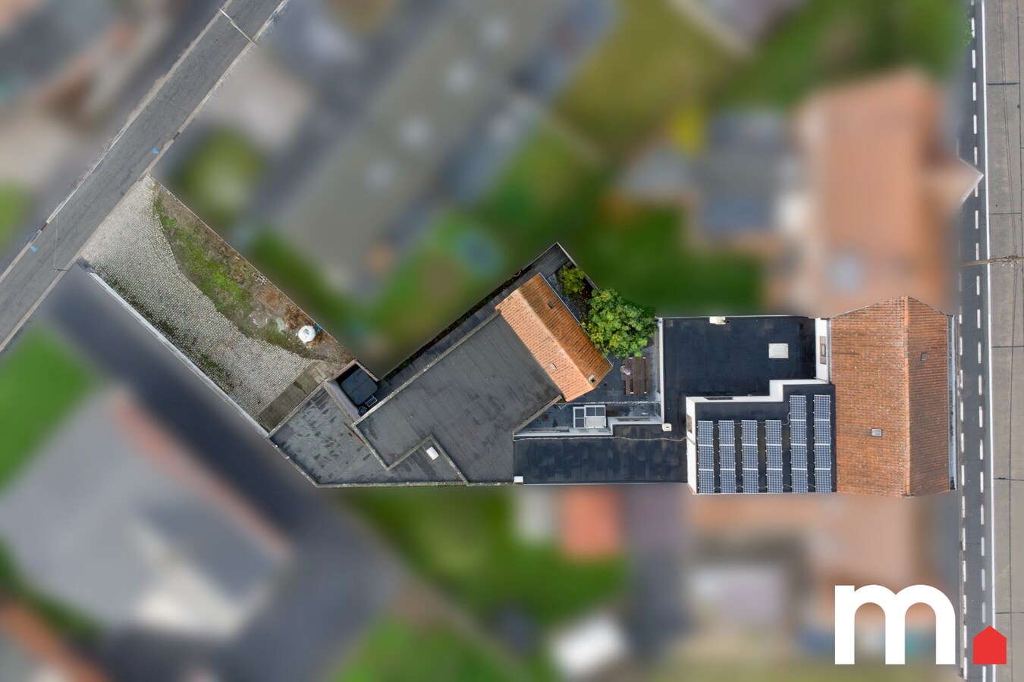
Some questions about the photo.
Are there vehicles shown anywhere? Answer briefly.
No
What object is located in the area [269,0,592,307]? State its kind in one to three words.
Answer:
building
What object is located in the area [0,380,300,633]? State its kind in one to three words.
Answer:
house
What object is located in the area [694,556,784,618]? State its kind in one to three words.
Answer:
shed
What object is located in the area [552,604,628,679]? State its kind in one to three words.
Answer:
shed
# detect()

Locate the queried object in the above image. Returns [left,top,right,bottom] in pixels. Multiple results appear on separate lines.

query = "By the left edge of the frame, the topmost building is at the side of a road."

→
[0,0,195,122]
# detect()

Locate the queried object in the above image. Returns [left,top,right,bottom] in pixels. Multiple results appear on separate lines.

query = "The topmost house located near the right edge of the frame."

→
[794,84,984,317]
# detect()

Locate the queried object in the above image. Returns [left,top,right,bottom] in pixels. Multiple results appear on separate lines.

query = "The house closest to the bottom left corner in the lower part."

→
[0,573,131,682]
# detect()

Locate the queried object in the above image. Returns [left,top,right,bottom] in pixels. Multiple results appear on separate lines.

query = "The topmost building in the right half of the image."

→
[710,0,794,54]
